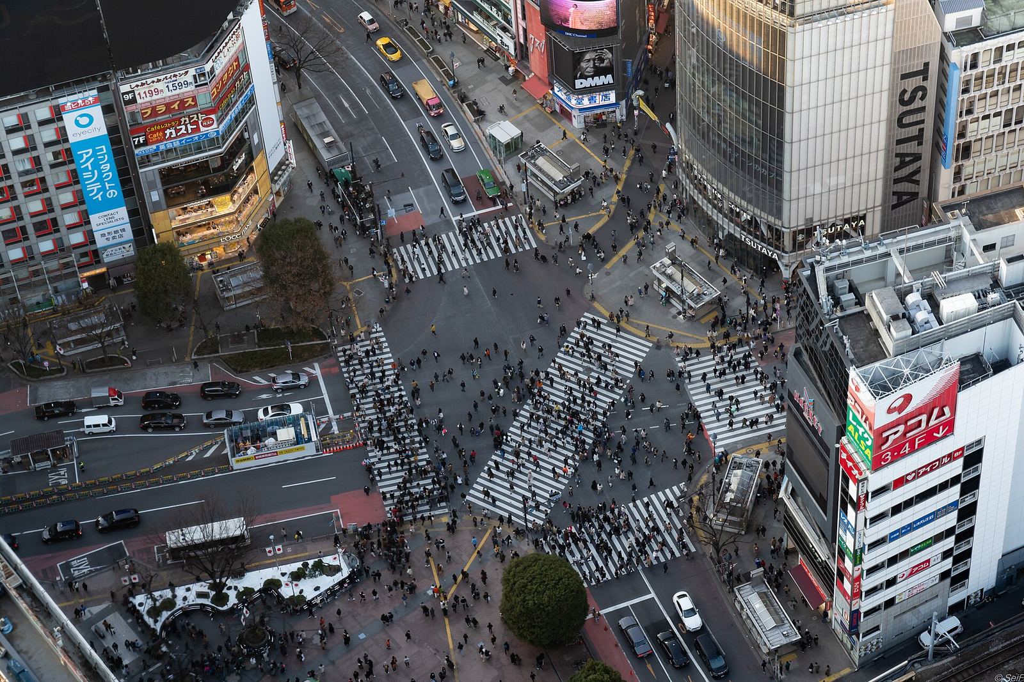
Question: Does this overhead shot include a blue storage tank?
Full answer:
No, there appears to be no blue storage tank in this shot.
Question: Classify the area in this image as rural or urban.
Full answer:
This place is urban.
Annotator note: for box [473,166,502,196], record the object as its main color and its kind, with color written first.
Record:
green car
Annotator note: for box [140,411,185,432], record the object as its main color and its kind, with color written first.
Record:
black car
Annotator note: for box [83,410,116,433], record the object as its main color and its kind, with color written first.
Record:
white vehicle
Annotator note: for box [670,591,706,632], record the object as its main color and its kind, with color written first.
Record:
white car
